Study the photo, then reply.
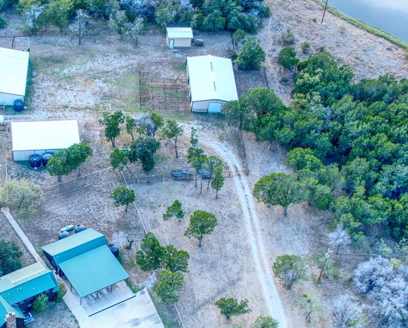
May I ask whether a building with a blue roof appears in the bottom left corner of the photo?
Yes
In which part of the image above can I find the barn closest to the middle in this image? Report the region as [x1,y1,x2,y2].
[184,54,237,114]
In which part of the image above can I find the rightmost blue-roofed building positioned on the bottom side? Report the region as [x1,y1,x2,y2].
[41,227,129,305]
